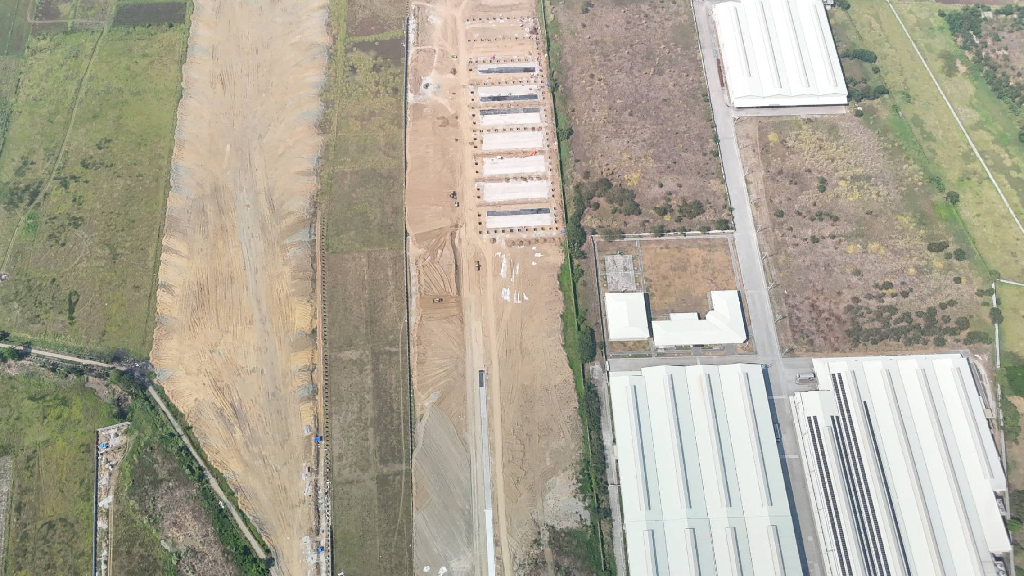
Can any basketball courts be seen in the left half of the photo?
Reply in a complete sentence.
No, in the left half of the photo there is no basketball court.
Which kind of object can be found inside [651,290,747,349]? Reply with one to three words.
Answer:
building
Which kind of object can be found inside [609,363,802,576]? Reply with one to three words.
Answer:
warehouse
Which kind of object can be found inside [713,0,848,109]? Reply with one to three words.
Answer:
building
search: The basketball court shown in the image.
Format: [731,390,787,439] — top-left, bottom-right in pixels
[605,255,636,292]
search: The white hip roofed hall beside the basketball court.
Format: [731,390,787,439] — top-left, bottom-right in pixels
[605,292,649,343]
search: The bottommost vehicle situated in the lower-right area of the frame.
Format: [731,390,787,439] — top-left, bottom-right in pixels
[773,421,785,442]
